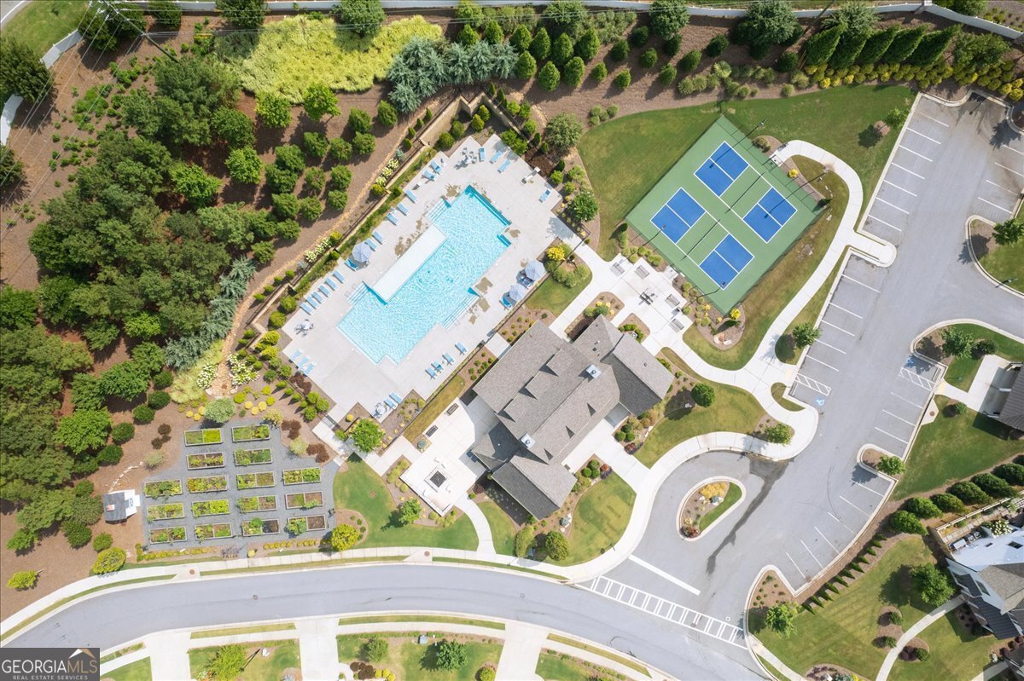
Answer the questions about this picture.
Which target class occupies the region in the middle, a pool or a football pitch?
pool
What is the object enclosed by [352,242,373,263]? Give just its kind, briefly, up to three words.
umbrella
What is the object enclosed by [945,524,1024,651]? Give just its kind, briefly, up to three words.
house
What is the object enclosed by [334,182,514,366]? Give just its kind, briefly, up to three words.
swimming pool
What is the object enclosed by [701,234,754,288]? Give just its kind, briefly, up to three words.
sports court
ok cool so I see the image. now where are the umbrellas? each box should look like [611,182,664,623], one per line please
[525,260,545,280]
[508,281,529,302]
[352,242,373,263]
